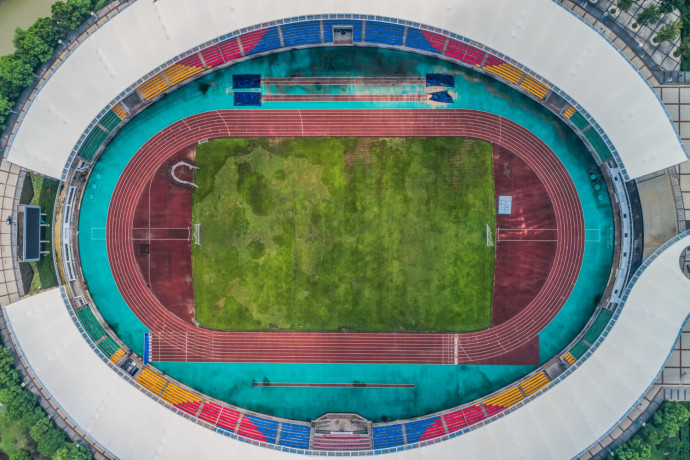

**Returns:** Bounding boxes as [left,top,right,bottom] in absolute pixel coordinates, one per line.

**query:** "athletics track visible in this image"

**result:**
[106,109,584,363]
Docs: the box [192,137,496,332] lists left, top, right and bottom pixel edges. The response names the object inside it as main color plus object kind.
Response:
green soccer field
